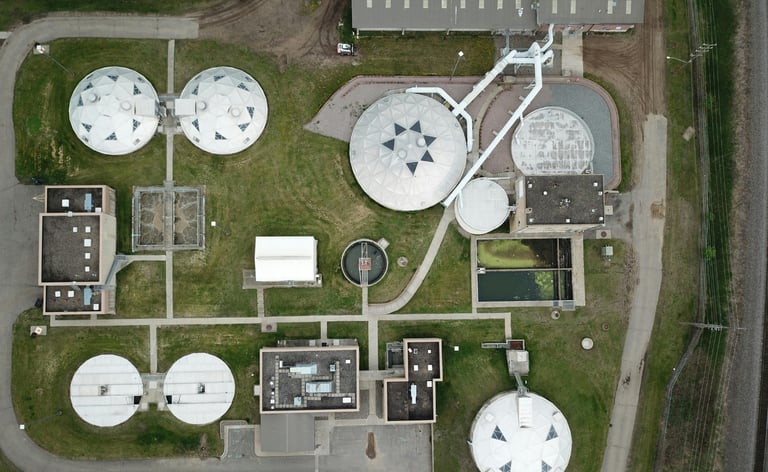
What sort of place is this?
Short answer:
industrial area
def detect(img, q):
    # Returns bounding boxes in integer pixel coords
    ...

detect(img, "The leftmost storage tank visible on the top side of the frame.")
[69,67,162,158]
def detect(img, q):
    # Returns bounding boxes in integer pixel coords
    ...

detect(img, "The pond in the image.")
[470,234,586,310]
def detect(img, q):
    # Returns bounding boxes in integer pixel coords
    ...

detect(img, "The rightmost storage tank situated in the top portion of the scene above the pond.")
[512,108,592,177]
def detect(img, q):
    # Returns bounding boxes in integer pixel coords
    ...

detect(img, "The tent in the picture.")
[255,236,316,281]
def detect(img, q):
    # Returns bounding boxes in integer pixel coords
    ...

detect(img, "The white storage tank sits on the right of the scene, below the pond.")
[467,390,572,472]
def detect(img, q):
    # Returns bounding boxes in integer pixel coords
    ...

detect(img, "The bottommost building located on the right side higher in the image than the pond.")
[508,176,604,231]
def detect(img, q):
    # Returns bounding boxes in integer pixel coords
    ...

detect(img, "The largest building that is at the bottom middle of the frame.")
[254,346,360,414]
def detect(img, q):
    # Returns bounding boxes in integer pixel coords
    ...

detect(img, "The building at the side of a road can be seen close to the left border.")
[38,185,118,315]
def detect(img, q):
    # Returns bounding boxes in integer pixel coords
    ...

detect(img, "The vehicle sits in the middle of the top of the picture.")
[336,44,354,56]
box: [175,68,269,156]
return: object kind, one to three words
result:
storage tank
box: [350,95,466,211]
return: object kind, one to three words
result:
storage tank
